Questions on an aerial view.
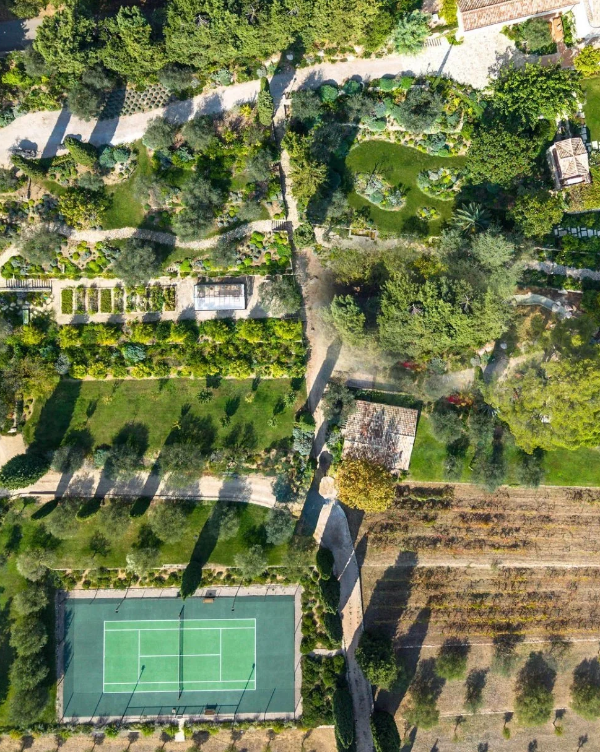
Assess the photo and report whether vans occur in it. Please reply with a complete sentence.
No, no van can be seen from above.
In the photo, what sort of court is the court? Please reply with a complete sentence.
It looks like the court is a tennis court.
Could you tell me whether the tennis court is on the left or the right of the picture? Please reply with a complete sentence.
The tennis court sits on the left side.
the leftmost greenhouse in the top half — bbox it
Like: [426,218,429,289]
[194,283,248,311]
